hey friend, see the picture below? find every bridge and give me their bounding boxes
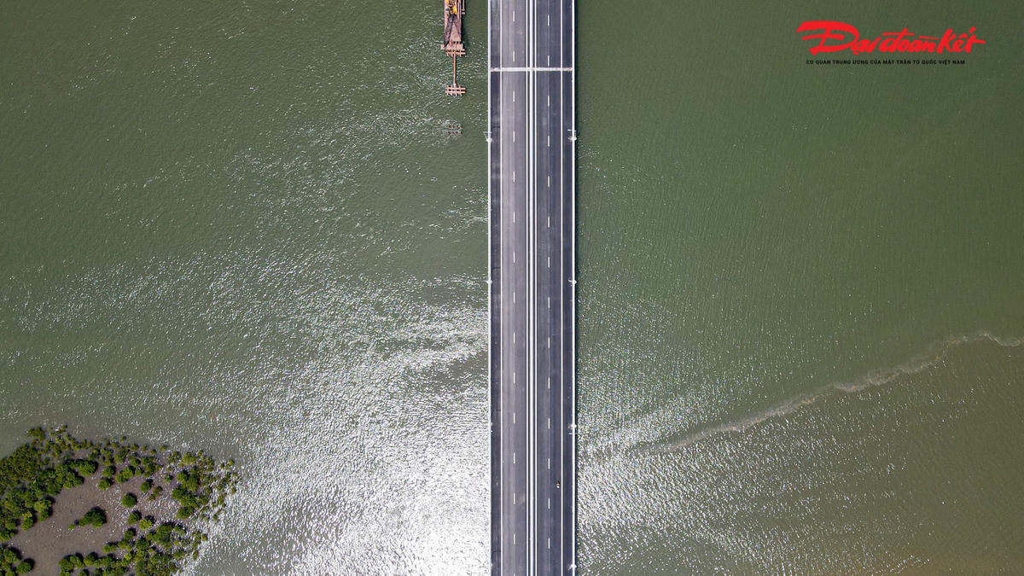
[489,0,575,576]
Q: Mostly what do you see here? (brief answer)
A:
water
